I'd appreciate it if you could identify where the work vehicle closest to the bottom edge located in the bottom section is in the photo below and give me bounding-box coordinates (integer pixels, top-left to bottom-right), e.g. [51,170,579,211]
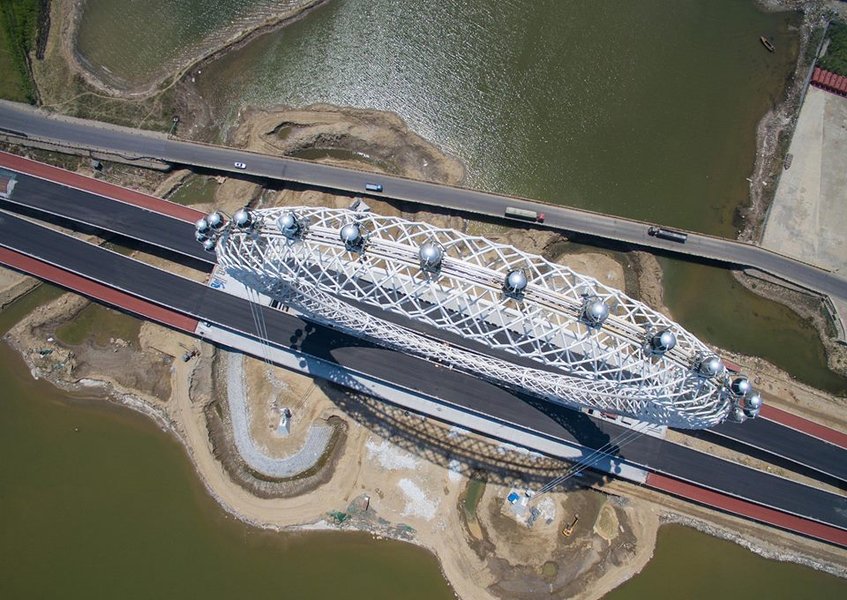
[562,515,578,538]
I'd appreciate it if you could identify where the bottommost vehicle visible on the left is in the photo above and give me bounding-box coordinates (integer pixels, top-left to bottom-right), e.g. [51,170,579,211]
[179,343,200,361]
